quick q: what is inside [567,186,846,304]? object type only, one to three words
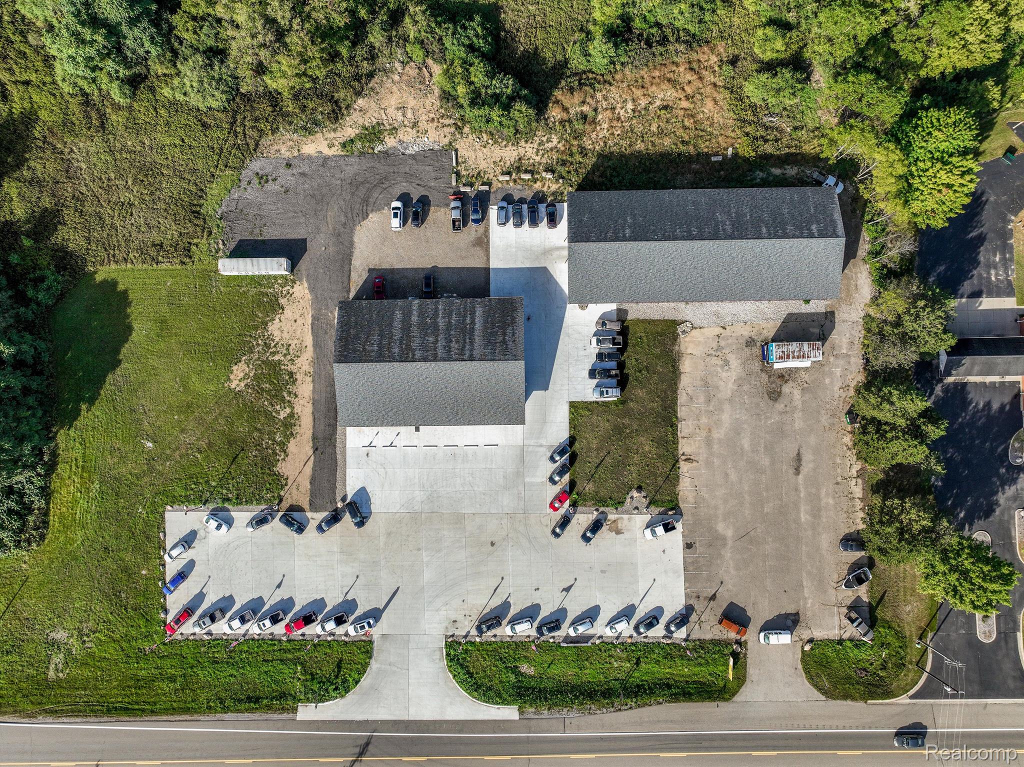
building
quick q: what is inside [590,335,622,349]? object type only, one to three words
vehicle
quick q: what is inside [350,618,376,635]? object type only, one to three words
car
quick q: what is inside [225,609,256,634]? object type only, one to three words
truck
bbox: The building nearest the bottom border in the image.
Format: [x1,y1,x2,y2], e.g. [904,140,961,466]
[333,296,525,427]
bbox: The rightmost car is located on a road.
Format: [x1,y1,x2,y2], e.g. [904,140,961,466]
[892,733,924,748]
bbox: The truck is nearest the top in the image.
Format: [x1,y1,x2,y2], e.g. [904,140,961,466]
[808,170,843,192]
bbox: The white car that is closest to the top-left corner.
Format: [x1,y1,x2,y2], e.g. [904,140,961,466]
[390,202,403,231]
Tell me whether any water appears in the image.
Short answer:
No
